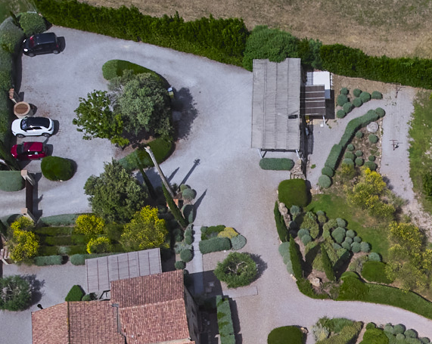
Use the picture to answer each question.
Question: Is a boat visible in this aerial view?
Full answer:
No, no boat is visible in the view.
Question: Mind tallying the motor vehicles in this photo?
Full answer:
The photo contains 3 motor vehicles.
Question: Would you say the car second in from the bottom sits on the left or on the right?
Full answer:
The car second in from the bottom sits on the left side.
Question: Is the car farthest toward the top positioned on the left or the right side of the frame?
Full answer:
The car farthest toward the top appears in the left half of the scene.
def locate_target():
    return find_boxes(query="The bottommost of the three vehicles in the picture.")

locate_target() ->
[11,139,50,163]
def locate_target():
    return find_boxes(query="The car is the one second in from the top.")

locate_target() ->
[13,115,57,139]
